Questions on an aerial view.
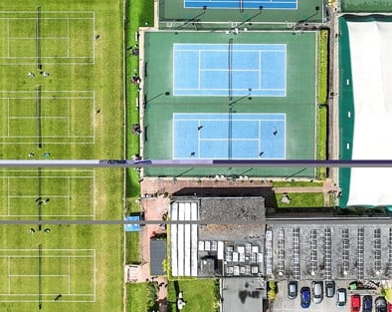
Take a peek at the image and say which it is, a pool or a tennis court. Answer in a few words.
tennis court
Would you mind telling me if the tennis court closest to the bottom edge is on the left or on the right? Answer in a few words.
left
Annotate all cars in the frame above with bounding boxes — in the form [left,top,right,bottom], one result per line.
[336,286,345,306]
[350,294,359,312]
[362,293,372,312]
[288,279,299,298]
[301,285,312,307]
[376,297,386,312]
[326,279,335,298]
[313,280,323,303]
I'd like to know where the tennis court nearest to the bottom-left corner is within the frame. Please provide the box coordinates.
[0,249,96,301]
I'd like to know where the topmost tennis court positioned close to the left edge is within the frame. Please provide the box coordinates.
[0,12,94,63]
